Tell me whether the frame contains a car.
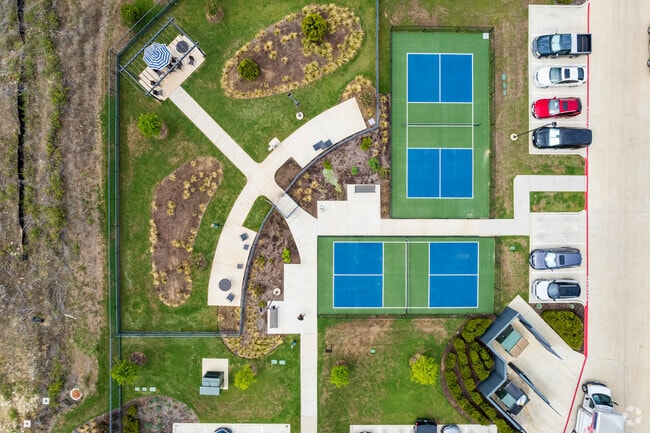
Yes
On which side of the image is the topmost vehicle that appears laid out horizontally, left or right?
right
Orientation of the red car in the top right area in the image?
from left to right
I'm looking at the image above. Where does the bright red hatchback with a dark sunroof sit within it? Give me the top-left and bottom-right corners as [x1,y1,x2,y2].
[528,96,583,121]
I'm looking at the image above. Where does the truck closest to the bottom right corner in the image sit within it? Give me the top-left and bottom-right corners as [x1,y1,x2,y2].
[576,378,625,433]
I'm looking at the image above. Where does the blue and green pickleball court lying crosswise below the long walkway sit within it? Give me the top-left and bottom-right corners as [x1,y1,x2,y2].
[319,236,495,317]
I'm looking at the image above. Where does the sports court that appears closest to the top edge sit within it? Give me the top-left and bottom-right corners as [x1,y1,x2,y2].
[392,31,490,218]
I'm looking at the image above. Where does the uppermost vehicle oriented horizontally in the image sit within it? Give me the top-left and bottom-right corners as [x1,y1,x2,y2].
[529,30,592,58]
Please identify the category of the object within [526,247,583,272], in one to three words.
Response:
car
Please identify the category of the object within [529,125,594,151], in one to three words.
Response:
vehicle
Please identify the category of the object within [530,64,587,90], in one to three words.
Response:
car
